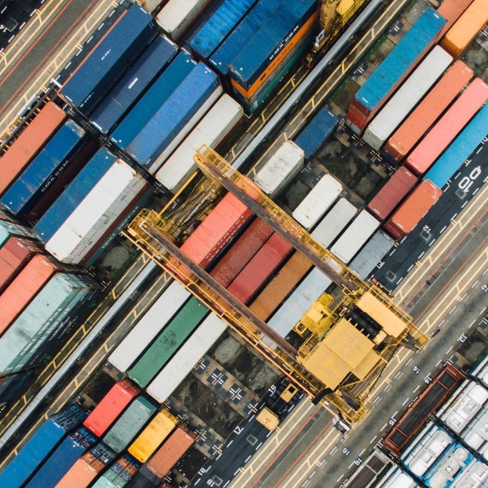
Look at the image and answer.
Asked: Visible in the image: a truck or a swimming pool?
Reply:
truck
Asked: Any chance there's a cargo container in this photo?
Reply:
Yes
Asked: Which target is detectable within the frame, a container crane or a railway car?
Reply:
container crane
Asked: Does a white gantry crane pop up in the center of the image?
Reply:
No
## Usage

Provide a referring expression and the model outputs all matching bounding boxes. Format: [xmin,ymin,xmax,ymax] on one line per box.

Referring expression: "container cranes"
[121,137,438,433]
[302,0,367,66]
